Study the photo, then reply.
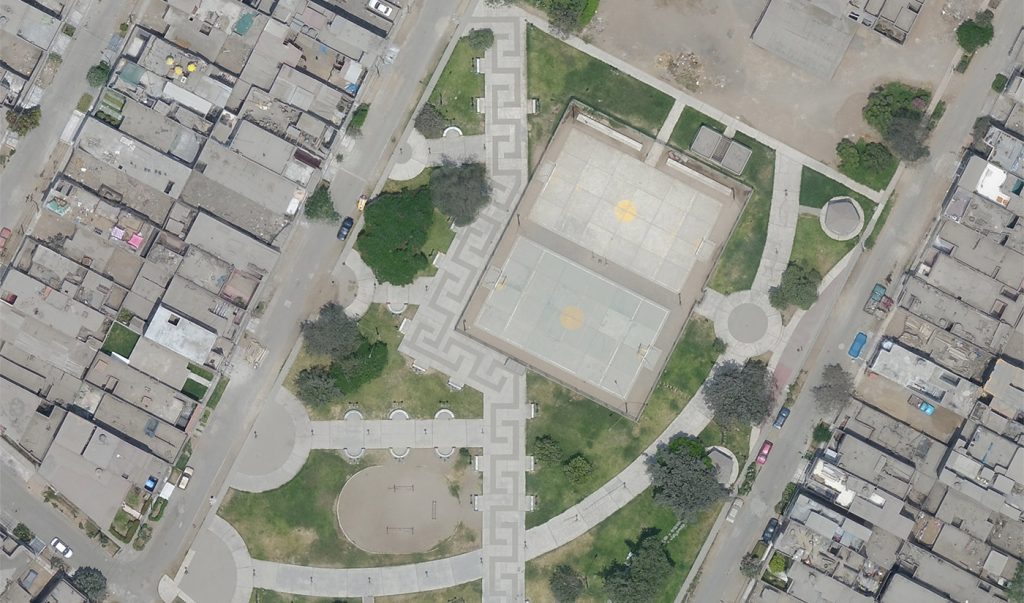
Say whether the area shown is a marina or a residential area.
residential area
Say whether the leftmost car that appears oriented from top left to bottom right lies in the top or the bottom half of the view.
bottom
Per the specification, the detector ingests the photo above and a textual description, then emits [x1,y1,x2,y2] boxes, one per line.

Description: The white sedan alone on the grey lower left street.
[48,536,74,560]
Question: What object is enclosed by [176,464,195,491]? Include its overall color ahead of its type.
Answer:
white car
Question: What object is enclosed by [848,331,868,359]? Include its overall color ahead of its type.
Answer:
blue car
